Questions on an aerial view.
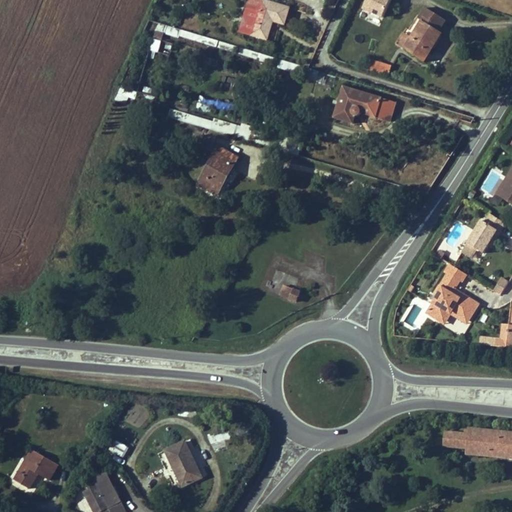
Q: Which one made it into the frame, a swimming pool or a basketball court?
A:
swimming pool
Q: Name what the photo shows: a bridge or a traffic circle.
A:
traffic circle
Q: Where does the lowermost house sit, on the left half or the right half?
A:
left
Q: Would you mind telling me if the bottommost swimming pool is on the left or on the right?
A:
right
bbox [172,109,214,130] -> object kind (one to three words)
greenhouse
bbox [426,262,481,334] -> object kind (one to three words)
house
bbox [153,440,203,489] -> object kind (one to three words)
house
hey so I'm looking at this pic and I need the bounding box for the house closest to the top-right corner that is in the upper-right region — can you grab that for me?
[395,7,446,64]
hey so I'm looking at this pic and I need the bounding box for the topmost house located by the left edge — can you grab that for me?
[10,451,58,492]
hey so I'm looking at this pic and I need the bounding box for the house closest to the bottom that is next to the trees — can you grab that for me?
[78,472,128,512]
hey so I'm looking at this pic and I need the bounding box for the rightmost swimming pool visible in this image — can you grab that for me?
[480,168,503,198]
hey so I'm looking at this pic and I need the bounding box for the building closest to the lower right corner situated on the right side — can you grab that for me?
[442,428,512,460]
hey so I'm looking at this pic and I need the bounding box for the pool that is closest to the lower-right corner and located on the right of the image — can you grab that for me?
[400,297,430,330]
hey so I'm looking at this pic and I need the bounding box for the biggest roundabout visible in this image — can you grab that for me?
[256,318,394,450]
